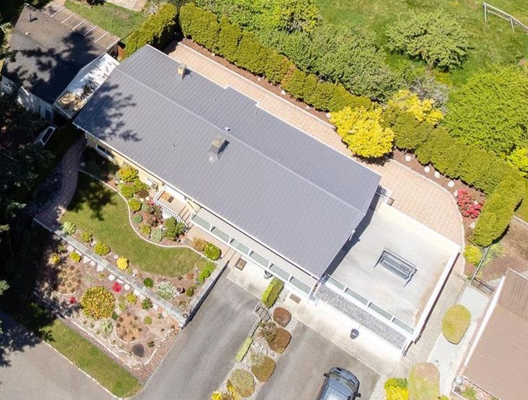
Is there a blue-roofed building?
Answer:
No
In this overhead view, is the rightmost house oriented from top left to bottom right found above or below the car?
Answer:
above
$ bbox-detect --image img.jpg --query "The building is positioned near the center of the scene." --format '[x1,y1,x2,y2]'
[70,45,461,370]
